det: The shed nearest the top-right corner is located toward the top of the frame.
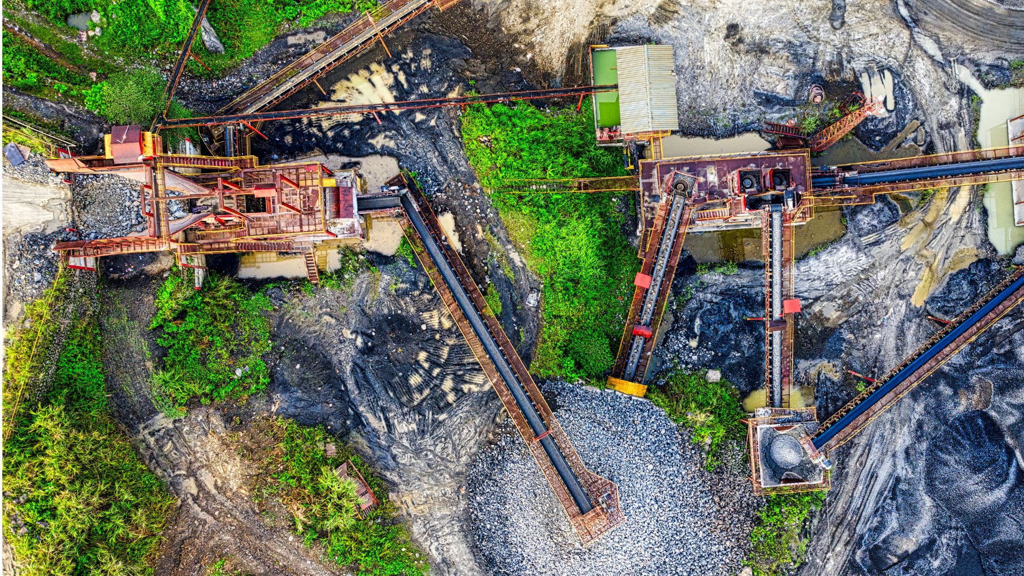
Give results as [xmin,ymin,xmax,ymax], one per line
[617,45,679,133]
